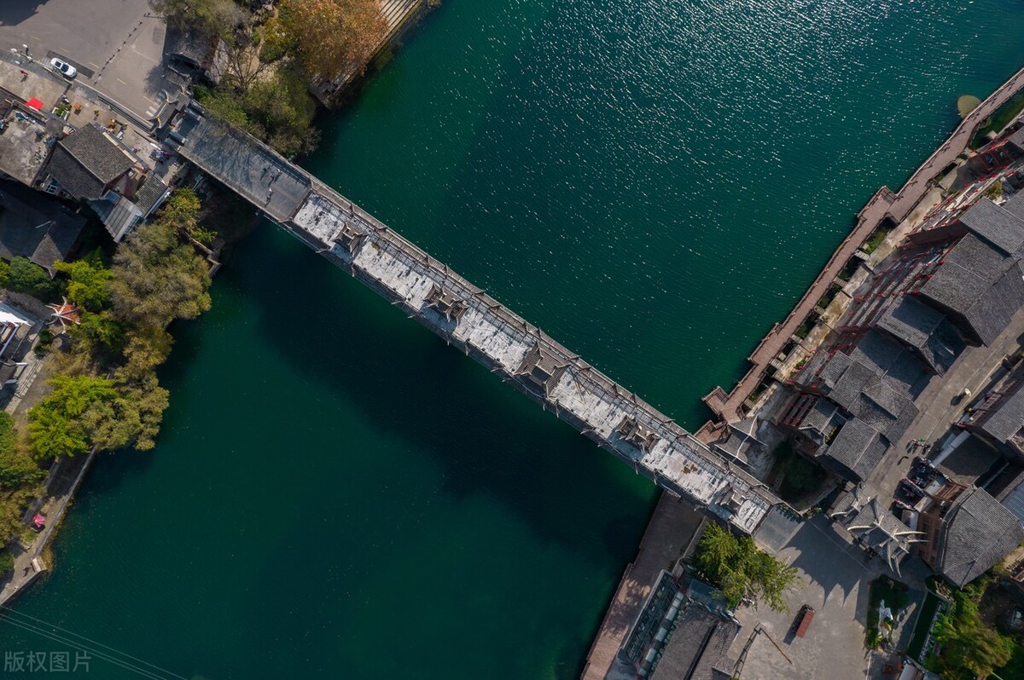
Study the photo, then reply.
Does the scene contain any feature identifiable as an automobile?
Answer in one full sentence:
Yes, there's an automobile down there.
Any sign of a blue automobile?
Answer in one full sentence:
No, no blue automobile can be seen from above.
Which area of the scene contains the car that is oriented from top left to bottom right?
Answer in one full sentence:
The car that is oriented from top left to bottom right is in the top left part of the image.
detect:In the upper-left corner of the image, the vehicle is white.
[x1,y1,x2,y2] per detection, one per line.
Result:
[50,55,80,79]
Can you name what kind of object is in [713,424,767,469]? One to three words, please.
shed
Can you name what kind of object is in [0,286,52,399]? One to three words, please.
building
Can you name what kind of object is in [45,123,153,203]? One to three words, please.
house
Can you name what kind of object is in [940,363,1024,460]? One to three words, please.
house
